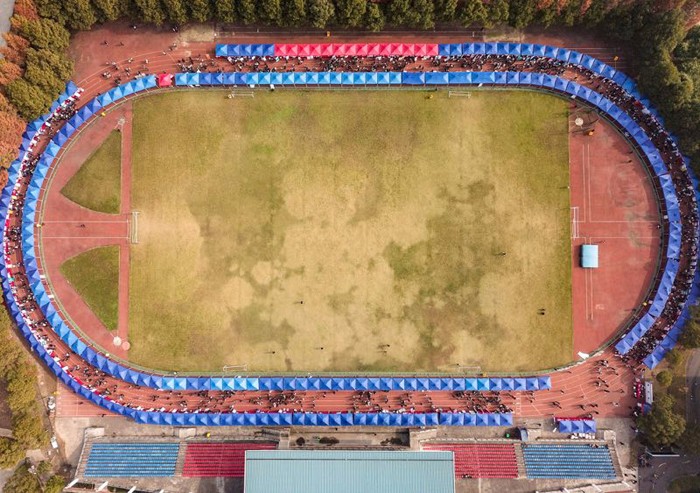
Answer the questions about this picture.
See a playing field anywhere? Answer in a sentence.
Yes, this view includes a playing field.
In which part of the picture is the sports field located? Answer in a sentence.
You can find the sports field in the center area of the picture.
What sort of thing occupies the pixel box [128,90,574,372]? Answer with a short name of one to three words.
sports field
